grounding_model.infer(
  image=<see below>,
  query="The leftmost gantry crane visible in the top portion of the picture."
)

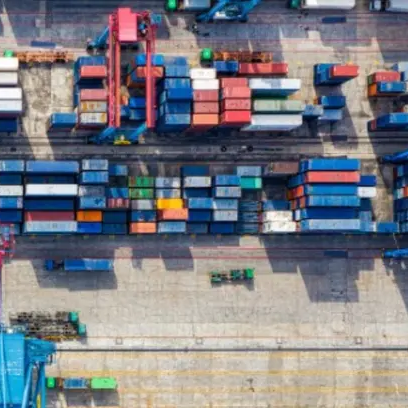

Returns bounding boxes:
[80,7,156,148]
